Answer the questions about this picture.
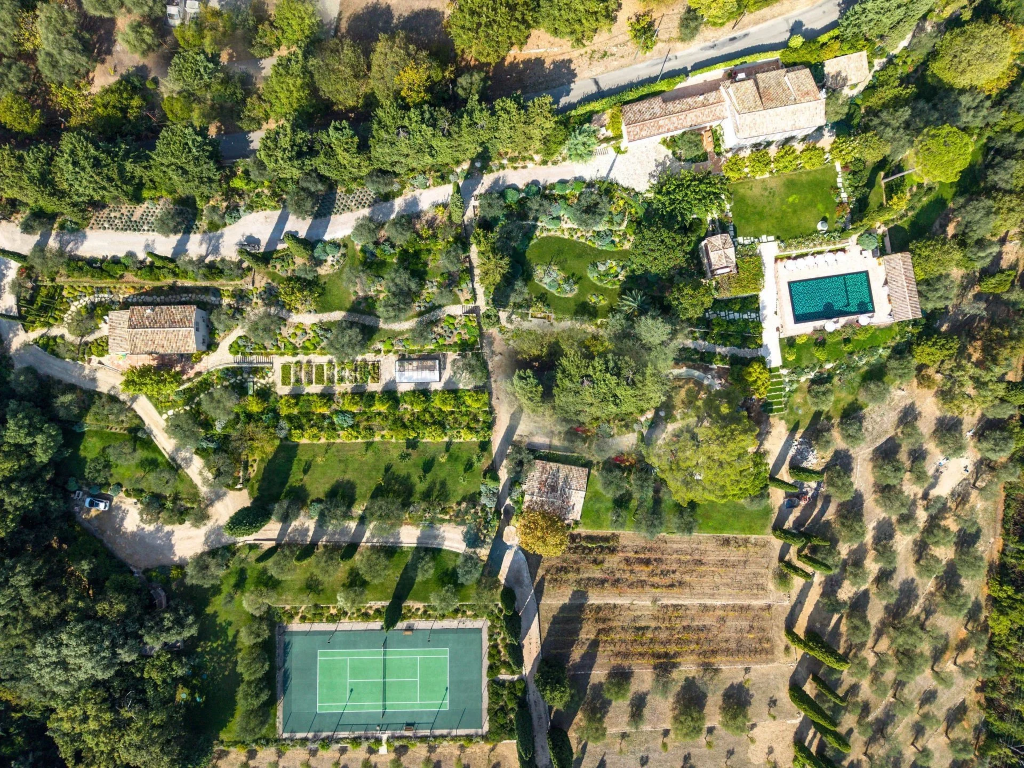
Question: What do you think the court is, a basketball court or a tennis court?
tennis court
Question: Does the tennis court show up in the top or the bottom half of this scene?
bottom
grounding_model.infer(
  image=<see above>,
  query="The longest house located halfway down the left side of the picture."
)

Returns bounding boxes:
[111,305,207,355]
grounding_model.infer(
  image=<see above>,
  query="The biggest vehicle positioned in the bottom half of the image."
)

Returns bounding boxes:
[86,497,111,510]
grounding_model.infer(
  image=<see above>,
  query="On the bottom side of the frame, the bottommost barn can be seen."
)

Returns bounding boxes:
[523,458,590,522]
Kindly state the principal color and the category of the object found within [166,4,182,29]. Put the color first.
white car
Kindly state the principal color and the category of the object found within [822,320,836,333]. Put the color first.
white umbrella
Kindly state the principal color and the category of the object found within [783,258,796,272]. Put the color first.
white umbrella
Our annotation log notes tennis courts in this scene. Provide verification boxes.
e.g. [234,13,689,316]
[274,619,491,744]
